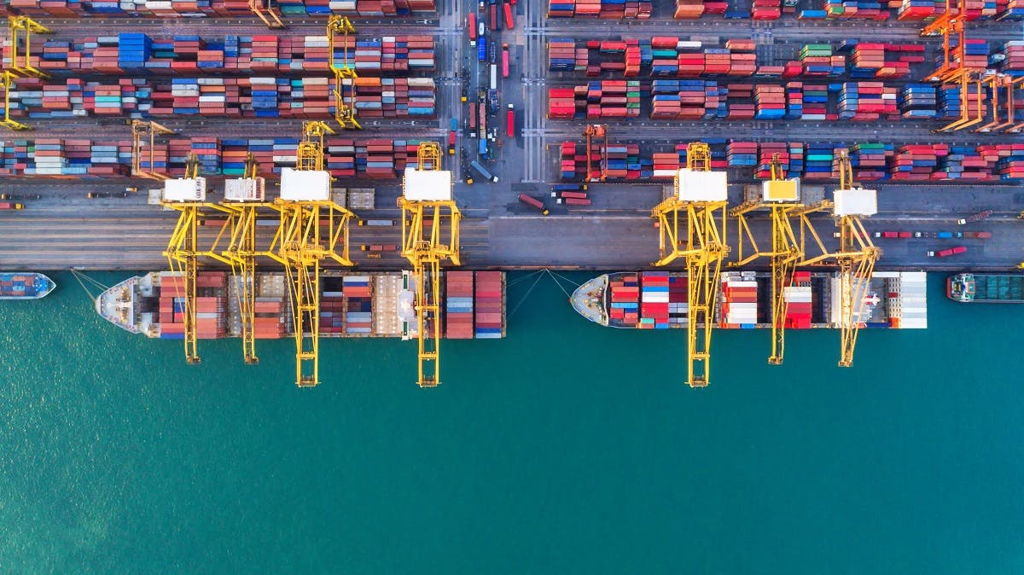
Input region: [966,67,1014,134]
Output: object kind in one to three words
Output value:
container crane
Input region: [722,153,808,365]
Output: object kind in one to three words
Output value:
container crane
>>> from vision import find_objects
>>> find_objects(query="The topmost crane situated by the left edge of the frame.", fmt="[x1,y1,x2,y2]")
[11,14,59,79]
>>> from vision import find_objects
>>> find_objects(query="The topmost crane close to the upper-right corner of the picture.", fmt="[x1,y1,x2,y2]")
[920,0,965,34]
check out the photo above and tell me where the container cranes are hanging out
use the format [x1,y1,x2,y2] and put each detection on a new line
[580,122,607,182]
[132,120,176,182]
[250,0,286,29]
[156,154,250,365]
[329,13,360,78]
[11,14,59,79]
[303,120,335,169]
[219,152,296,365]
[966,67,1014,134]
[0,68,39,131]
[278,141,357,387]
[937,67,985,132]
[401,143,464,387]
[650,143,730,387]
[334,68,365,131]
[785,148,881,367]
[921,17,966,80]
[722,153,808,365]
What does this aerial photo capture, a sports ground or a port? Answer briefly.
port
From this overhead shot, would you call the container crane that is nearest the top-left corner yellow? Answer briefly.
Yes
